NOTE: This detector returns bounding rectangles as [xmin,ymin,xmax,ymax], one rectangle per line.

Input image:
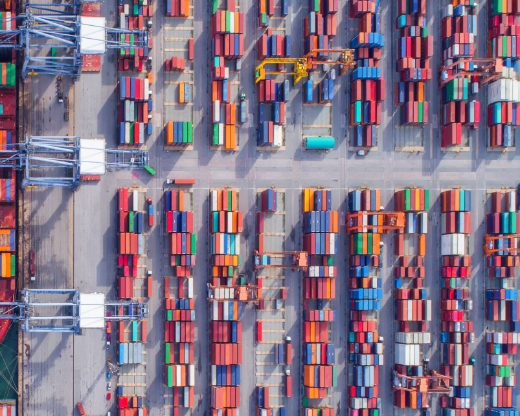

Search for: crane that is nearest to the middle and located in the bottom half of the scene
[253,249,307,273]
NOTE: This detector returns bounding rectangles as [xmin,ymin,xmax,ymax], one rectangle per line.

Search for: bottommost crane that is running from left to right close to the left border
[0,285,149,336]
